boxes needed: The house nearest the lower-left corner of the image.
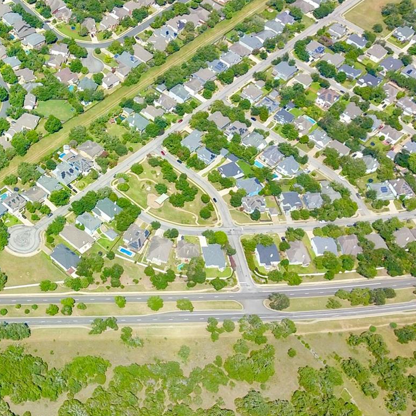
[48,242,84,274]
